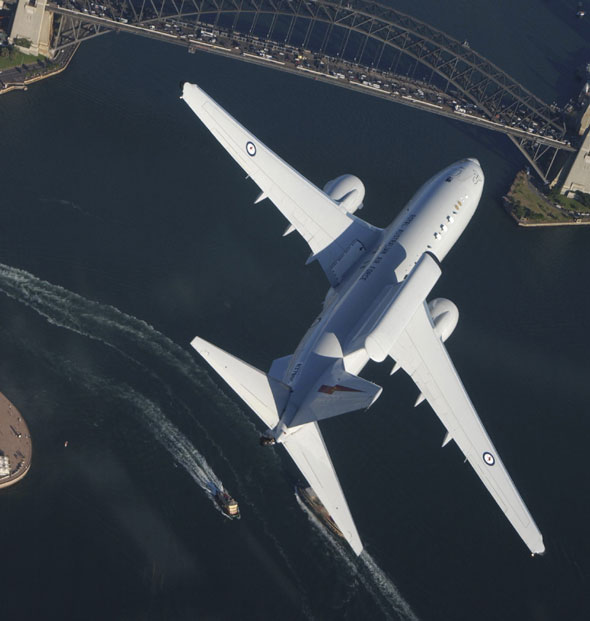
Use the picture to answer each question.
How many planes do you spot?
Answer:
1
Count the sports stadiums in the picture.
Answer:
none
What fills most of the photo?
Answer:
water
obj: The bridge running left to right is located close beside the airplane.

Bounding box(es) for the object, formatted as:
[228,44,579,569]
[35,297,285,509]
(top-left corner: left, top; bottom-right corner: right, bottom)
[45,0,585,184]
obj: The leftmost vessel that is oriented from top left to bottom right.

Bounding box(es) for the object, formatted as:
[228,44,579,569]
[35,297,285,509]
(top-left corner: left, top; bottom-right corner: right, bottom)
[219,489,244,519]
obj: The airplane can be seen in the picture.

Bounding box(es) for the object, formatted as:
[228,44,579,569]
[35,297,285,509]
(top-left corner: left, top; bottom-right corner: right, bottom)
[175,75,541,553]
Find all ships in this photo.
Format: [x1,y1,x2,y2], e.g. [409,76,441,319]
[219,489,244,519]
[299,481,352,546]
